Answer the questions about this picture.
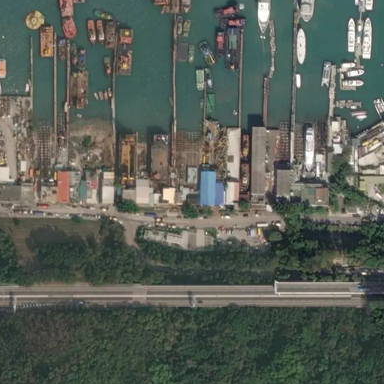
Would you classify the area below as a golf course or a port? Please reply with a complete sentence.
This image shows a port.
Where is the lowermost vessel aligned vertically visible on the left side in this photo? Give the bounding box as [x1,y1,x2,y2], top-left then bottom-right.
[120,134,136,178]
